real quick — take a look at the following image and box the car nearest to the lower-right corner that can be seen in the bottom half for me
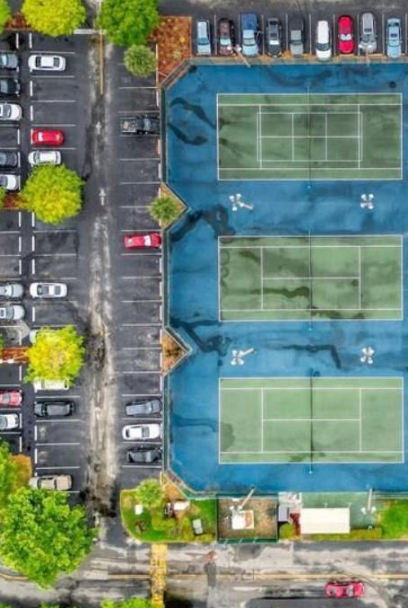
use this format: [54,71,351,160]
[326,579,364,599]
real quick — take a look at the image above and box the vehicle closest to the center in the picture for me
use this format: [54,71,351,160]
[124,232,160,249]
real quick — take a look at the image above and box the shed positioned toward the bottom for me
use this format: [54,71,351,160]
[300,504,349,534]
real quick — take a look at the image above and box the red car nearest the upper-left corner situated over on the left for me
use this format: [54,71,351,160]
[32,131,65,145]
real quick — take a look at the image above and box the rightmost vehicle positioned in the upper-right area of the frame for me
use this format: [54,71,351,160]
[386,19,401,58]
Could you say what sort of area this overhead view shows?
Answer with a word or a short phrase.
sports ground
